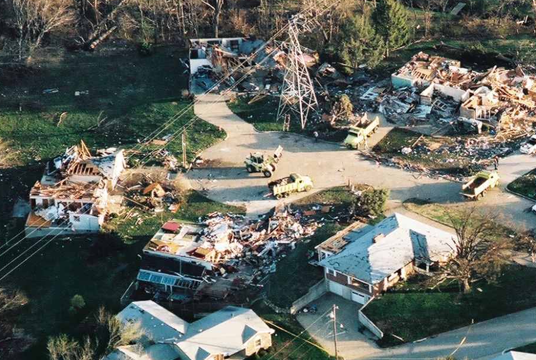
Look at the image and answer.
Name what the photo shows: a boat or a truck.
truck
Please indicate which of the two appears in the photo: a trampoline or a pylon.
pylon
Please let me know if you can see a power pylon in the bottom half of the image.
No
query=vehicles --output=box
[520,133,536,154]
[263,169,316,197]
[459,168,501,199]
[239,144,291,176]
[341,115,381,149]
